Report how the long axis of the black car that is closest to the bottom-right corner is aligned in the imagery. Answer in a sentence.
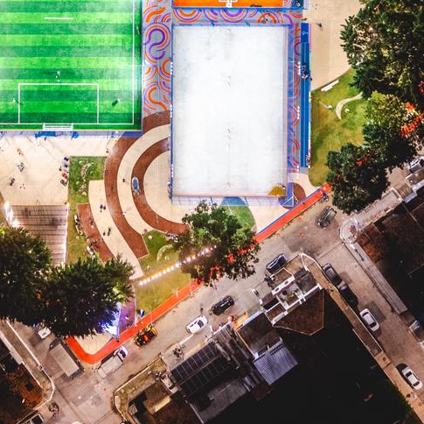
What the image shows is the black car that is closest to the bottom-right corner lying diagonally.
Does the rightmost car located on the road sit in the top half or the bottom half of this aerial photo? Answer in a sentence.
The bottom half of the photo is where the rightmost car located on the road is.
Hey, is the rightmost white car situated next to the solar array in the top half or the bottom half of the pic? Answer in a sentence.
The bottom half of the photo is where the rightmost white car situated next to the solar array is.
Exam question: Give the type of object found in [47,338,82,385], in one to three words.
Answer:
truck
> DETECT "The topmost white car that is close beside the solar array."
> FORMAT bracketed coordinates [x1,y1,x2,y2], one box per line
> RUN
[186,315,209,337]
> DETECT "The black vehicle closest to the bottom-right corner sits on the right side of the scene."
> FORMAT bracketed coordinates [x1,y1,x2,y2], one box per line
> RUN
[339,283,361,309]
